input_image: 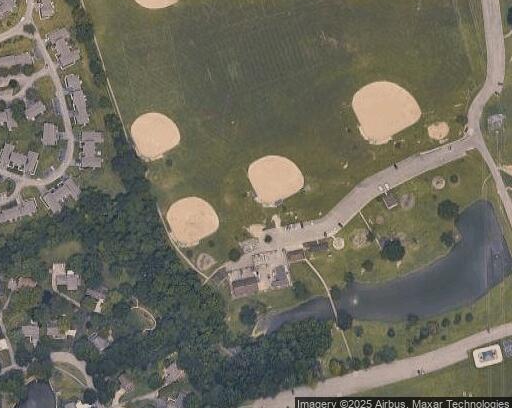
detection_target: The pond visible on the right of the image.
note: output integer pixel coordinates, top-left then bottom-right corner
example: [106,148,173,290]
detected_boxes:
[254,200,512,335]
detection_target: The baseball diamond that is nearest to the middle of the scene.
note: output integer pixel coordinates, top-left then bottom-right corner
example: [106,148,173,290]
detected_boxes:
[247,154,305,208]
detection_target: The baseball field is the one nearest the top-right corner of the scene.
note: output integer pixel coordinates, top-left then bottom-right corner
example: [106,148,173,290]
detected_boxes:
[352,80,422,145]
